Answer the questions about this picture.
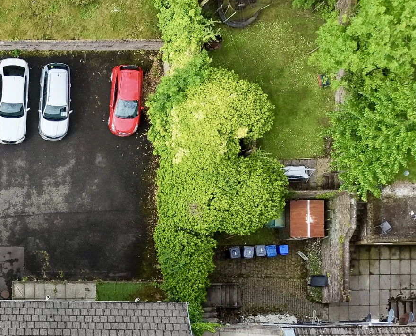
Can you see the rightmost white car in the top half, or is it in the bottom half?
top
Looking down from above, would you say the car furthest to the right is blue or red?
red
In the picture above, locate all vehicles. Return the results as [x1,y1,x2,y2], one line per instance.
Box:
[107,64,144,140]
[0,57,31,144]
[37,62,76,142]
